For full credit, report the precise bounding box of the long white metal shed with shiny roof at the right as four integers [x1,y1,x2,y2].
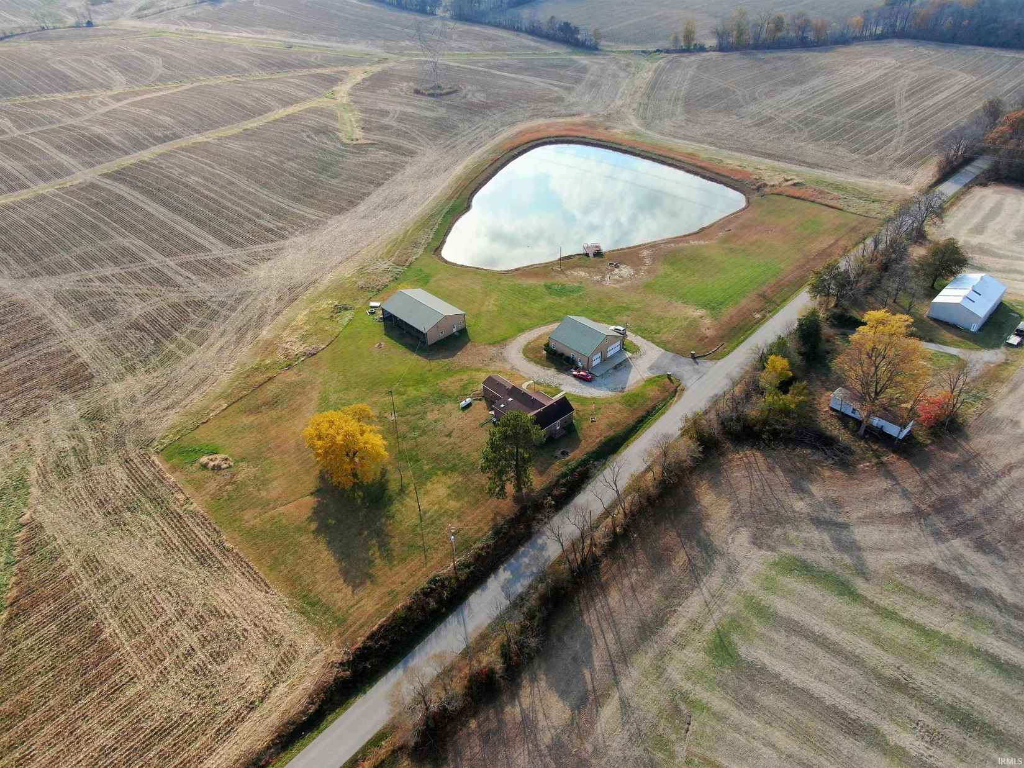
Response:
[929,274,1008,331]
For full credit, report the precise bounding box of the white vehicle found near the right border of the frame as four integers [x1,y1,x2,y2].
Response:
[1007,331,1023,346]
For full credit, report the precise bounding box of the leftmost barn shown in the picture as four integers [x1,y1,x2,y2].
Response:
[380,290,467,345]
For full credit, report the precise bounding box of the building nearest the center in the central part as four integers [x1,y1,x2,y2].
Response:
[480,374,575,438]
